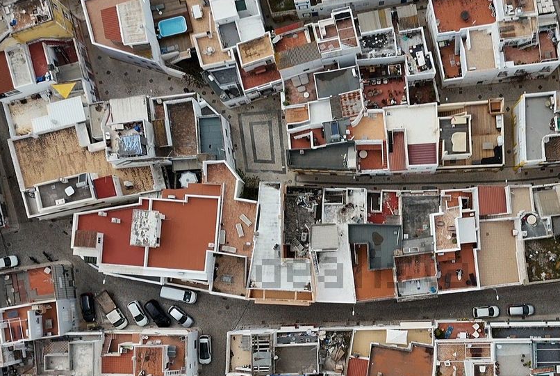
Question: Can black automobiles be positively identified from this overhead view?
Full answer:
Yes, there's a black automobile here.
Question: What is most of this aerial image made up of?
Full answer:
Most of the picture is covered by buildings.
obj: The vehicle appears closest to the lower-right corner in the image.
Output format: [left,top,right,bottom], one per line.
[506,304,534,318]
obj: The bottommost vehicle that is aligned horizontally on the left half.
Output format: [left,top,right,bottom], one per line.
[159,284,198,303]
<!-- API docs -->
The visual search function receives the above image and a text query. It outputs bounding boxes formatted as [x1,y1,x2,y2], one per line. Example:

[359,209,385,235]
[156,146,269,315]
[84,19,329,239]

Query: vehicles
[40,251,51,262]
[506,304,534,318]
[168,303,192,328]
[159,284,198,303]
[97,291,126,327]
[80,293,97,321]
[145,298,171,328]
[471,305,500,318]
[27,256,39,265]
[128,299,149,327]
